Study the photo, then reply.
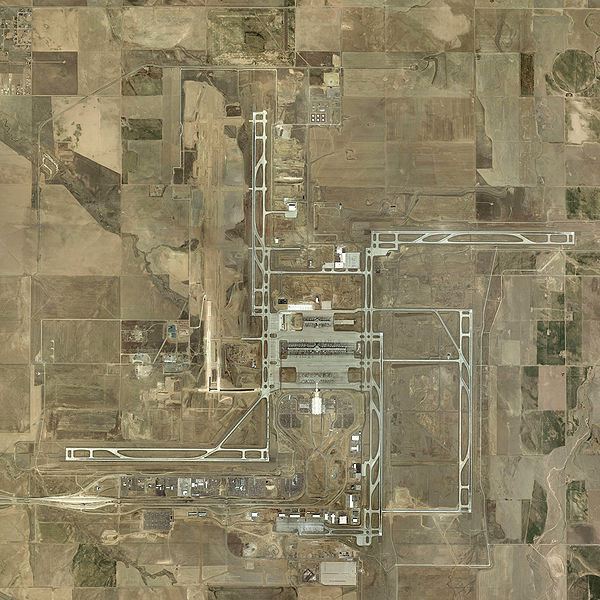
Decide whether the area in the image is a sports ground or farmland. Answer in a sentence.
The picture captures farmland.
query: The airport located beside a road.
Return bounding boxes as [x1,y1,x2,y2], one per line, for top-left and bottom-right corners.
[65,111,575,546]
